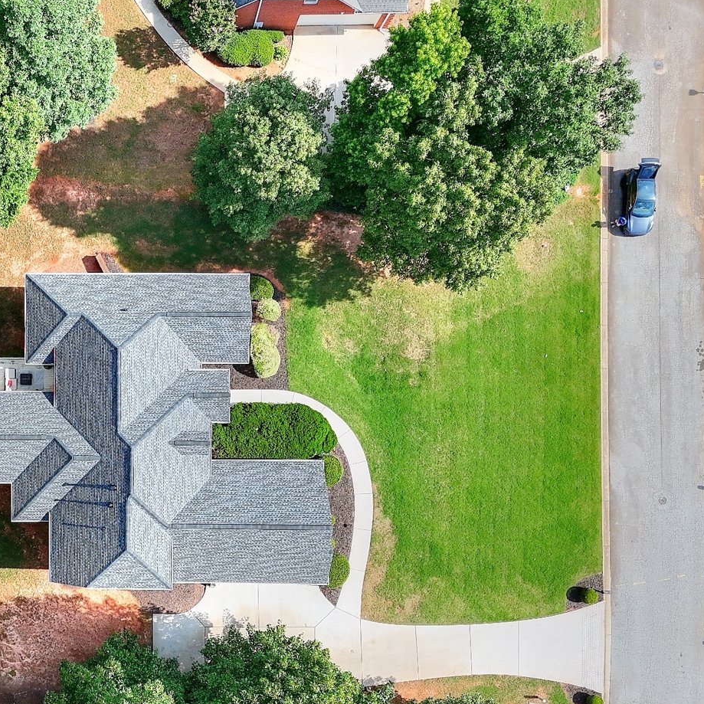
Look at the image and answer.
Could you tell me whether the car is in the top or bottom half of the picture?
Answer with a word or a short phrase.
top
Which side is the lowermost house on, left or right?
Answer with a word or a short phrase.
left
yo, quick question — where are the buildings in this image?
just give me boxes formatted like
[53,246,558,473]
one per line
[0,272,334,590]
[230,0,411,31]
